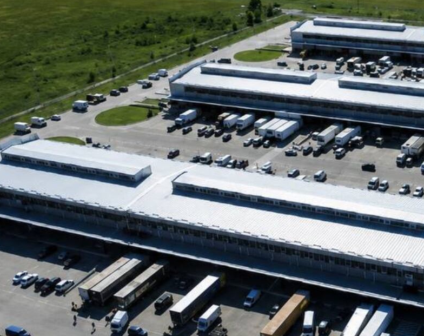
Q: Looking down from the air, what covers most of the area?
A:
buildings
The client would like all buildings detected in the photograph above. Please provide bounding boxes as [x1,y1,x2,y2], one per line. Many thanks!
[165,57,424,140]
[285,15,424,65]
[0,129,424,320]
